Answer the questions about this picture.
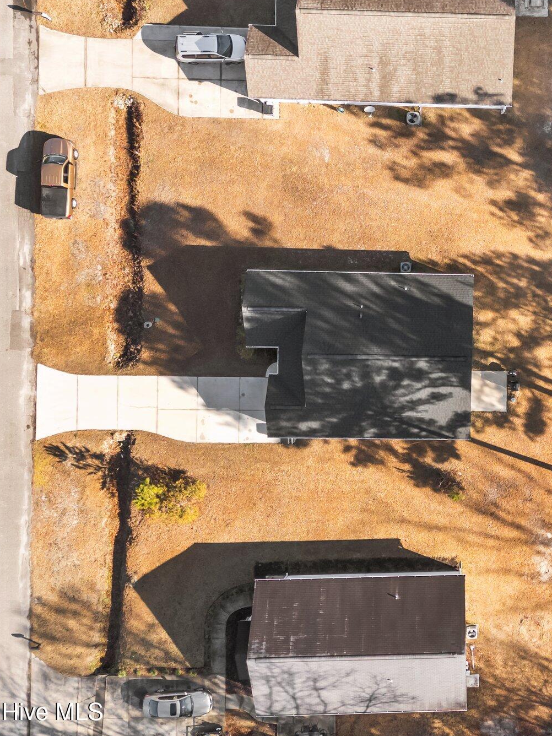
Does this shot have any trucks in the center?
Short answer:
No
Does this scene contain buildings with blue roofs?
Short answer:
No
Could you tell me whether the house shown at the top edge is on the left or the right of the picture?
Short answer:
right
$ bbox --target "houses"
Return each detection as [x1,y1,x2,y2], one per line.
[242,269,474,442]
[242,0,517,116]
[236,560,467,718]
